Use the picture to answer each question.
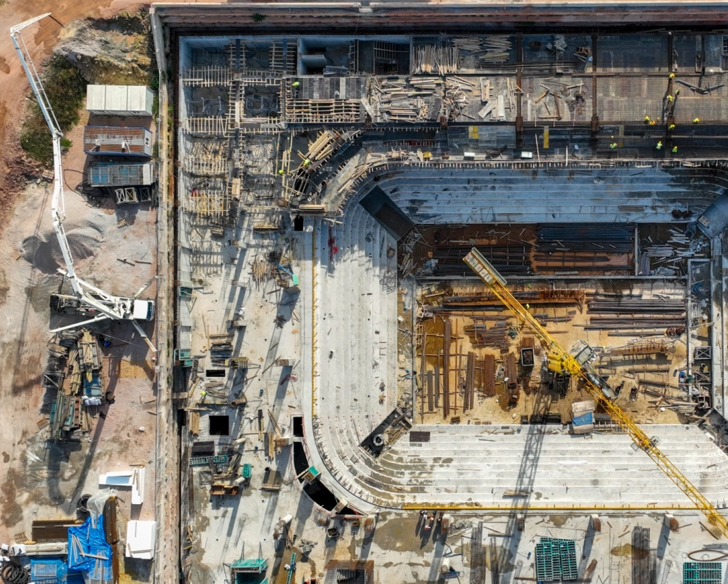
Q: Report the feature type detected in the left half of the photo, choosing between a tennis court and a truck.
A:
truck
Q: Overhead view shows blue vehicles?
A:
No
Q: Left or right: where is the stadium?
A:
right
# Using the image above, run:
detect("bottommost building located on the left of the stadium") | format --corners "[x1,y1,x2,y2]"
[87,162,159,188]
